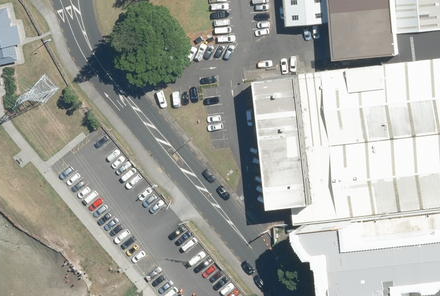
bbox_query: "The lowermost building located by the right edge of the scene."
[289,210,440,296]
